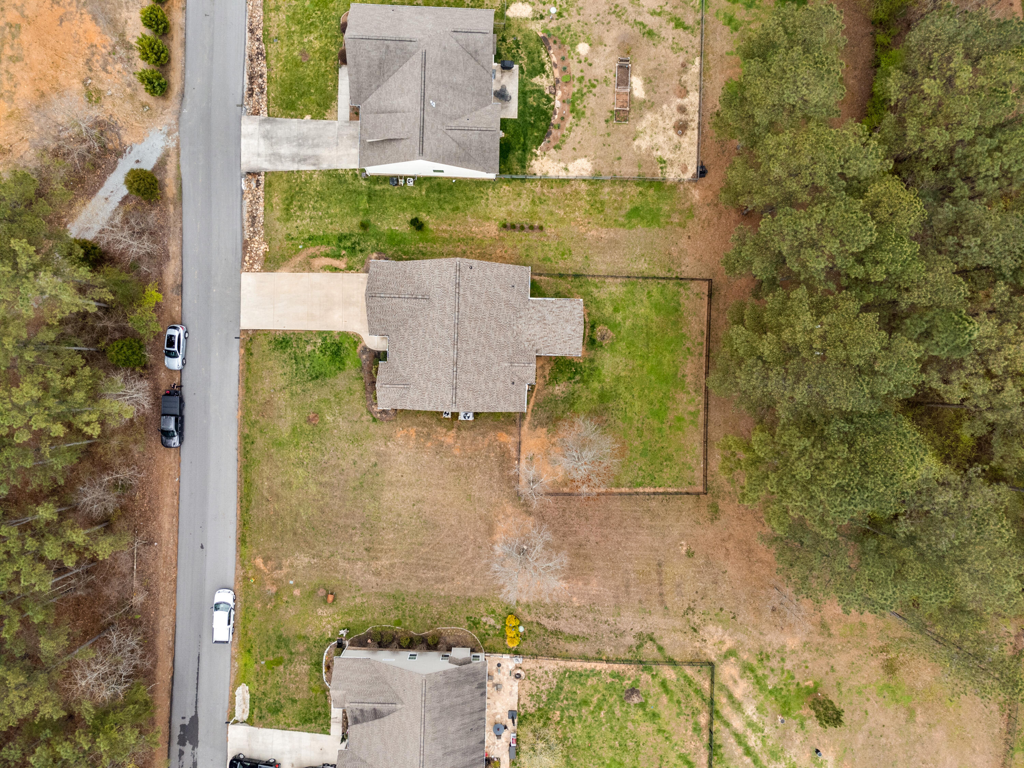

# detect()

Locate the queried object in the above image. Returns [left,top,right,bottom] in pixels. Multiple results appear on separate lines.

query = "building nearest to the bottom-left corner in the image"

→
[329,645,489,768]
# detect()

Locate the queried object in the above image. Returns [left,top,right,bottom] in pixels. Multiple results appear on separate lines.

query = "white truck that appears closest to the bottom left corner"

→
[210,588,236,646]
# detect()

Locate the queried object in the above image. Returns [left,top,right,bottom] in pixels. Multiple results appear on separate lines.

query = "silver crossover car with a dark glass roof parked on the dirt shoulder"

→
[161,325,189,371]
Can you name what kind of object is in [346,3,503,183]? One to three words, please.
house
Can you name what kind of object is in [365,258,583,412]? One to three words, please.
house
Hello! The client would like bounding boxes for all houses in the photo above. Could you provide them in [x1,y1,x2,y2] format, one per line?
[346,3,503,183]
[329,645,489,768]
[365,258,583,412]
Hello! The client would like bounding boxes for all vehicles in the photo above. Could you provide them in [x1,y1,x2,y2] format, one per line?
[161,325,189,371]
[158,388,186,449]
[227,756,280,768]
[210,588,236,646]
